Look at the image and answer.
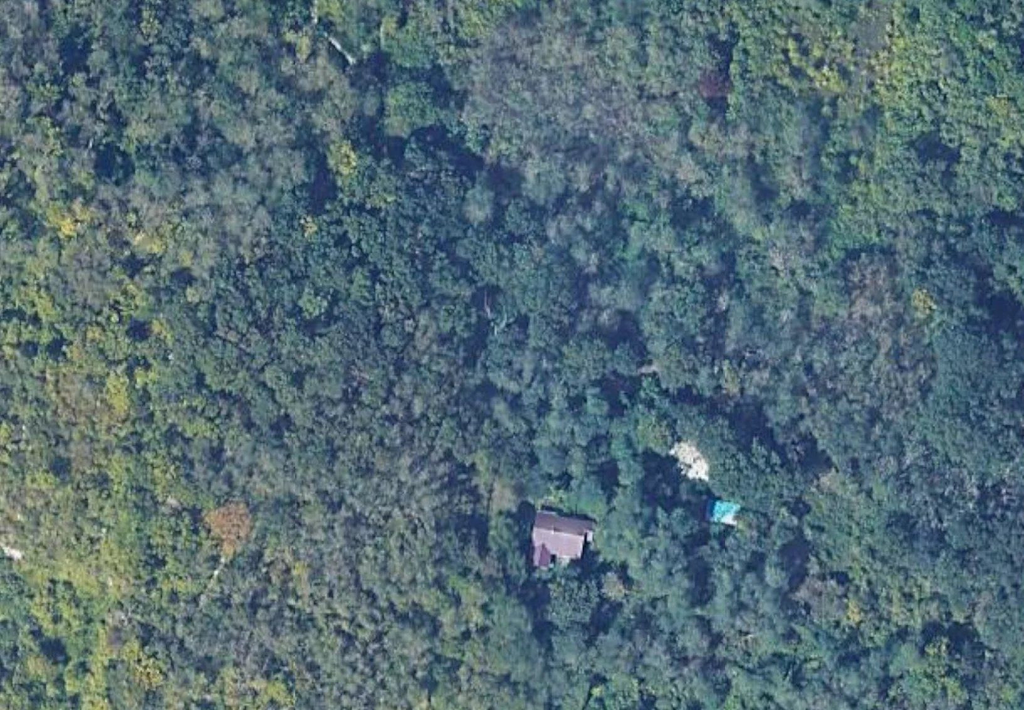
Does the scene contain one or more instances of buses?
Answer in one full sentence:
No, there is no bus in the image.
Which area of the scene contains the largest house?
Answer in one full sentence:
You can find the largest house in the bottom area of the picture.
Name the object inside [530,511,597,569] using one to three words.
house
